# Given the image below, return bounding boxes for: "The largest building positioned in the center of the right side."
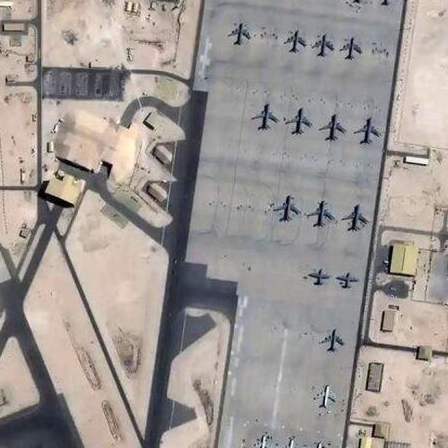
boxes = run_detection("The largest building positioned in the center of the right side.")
[389,245,418,276]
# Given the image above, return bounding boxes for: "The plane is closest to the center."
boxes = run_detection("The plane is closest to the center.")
[274,195,299,222]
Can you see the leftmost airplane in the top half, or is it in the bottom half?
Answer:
top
